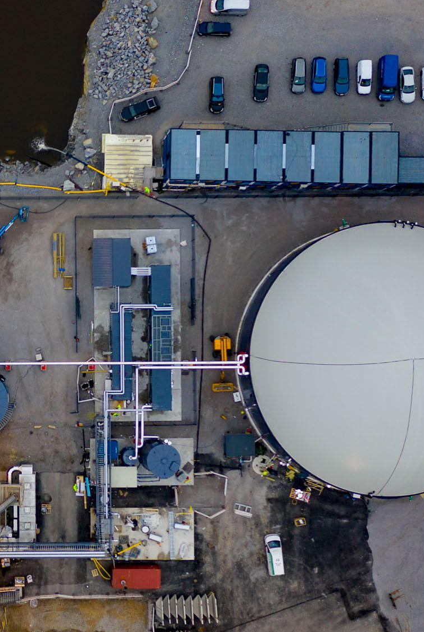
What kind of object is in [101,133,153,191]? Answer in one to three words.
shed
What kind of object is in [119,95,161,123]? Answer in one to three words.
truck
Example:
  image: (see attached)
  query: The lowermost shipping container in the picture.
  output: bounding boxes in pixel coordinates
[109,564,160,589]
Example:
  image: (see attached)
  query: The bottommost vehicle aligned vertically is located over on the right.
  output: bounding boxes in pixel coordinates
[264,534,286,578]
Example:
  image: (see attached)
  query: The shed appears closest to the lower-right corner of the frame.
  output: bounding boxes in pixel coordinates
[219,432,255,463]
